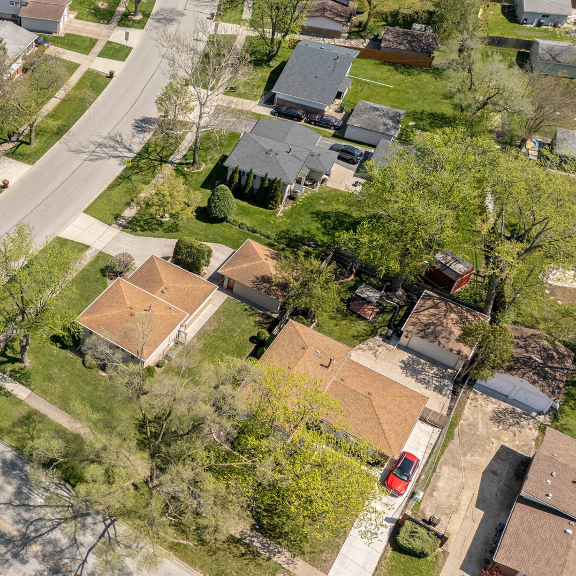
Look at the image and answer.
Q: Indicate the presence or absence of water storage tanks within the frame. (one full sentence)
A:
No, no water storage tank is visible in the view.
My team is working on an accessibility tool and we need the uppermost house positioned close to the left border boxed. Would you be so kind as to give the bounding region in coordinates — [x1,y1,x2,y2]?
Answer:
[0,0,68,34]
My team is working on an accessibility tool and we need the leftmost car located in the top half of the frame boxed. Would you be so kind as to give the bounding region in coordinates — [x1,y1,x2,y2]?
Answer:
[32,32,56,49]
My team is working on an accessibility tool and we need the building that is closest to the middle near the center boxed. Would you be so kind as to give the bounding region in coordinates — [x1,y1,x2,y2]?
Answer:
[217,238,308,313]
